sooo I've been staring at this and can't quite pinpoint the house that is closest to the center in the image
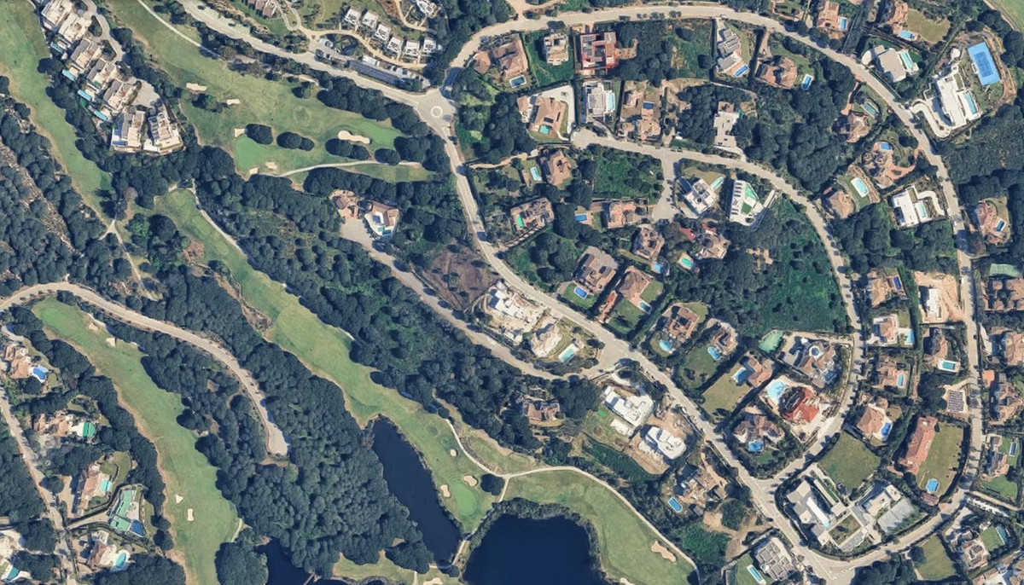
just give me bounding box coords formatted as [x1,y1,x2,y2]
[492,280,538,326]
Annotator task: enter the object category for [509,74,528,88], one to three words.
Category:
swimming pool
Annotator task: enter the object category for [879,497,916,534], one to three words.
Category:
tennis court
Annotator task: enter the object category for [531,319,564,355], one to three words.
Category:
house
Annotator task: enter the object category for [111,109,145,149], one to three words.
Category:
house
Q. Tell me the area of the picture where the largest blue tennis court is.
top right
